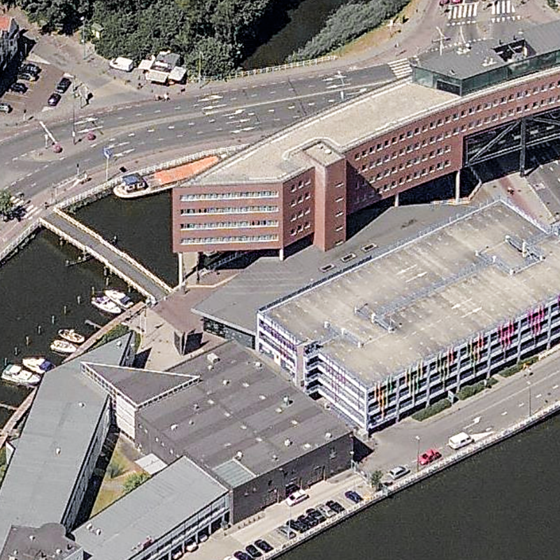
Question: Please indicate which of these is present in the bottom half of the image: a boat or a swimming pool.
boat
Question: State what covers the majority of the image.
buildings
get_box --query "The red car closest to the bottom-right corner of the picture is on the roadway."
[418,451,440,465]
